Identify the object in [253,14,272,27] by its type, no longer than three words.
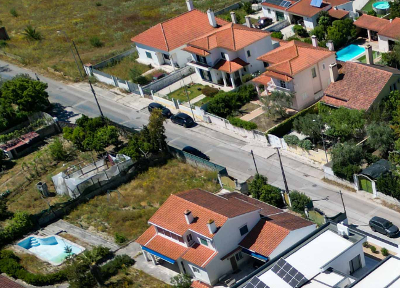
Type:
vehicle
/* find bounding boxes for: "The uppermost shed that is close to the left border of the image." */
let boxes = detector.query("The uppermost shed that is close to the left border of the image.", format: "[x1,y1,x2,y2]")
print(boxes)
[0,131,43,161]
